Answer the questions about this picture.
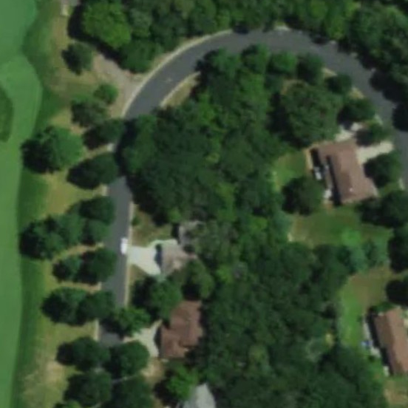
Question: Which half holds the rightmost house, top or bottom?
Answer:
bottom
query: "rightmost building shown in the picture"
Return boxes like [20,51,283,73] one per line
[373,305,408,377]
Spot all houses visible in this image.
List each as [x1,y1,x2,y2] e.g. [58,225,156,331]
[316,139,378,206]
[160,302,203,359]
[373,305,408,377]
[161,223,191,270]
[178,383,222,408]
